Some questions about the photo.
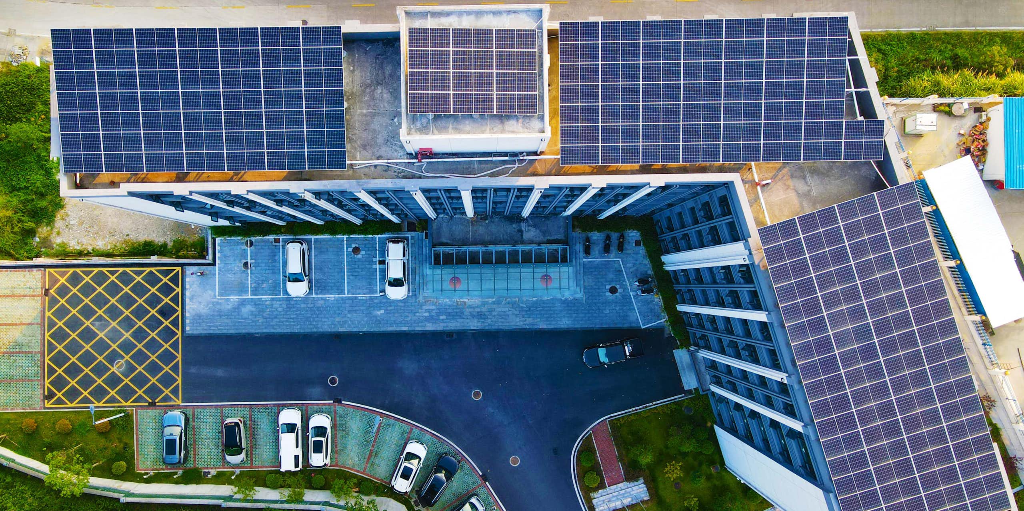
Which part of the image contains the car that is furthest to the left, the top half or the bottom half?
bottom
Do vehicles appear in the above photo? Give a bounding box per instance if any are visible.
[305,411,334,470]
[389,440,430,499]
[605,234,615,254]
[383,238,410,301]
[221,415,249,465]
[584,236,594,256]
[634,276,654,286]
[416,452,462,511]
[582,336,644,370]
[284,239,312,297]
[618,232,626,252]
[161,408,193,468]
[275,406,305,475]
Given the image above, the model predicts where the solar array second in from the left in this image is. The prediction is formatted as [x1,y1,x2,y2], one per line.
[407,27,538,115]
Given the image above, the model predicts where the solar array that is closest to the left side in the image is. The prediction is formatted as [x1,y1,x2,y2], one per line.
[51,27,348,173]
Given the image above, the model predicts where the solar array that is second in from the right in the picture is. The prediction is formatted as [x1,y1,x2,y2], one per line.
[557,17,883,165]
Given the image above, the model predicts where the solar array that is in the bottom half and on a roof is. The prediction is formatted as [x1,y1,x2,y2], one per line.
[757,182,1012,511]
